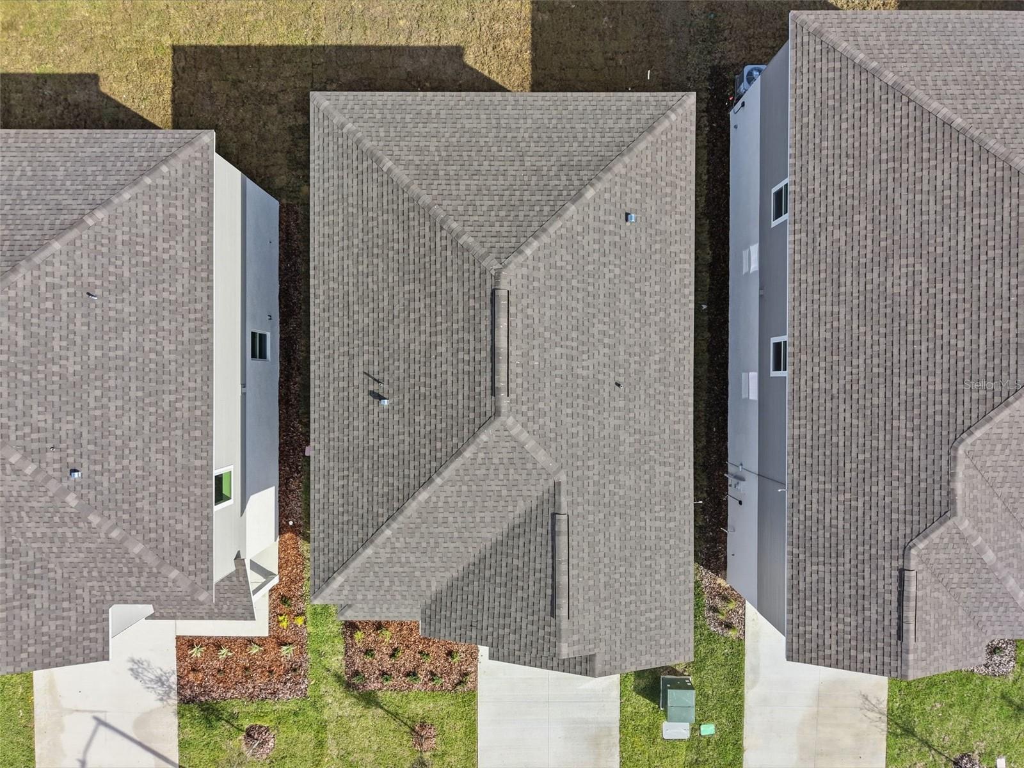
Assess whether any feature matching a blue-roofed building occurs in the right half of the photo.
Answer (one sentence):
No, no blue-roofed building is visible in the right half of the photo.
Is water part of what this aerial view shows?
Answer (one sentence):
No, there is no water in the image.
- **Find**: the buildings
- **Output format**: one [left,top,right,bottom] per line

[0,128,279,674]
[724,8,1024,678]
[309,90,704,680]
